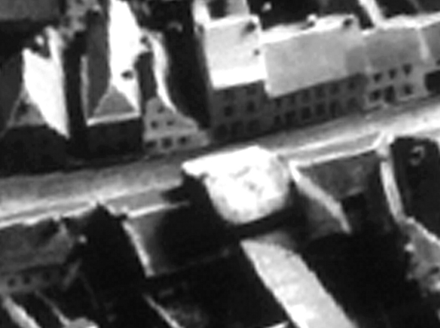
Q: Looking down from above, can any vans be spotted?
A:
No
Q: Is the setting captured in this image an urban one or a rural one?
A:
urban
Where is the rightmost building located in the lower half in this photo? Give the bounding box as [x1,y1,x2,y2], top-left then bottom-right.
[385,139,440,261]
